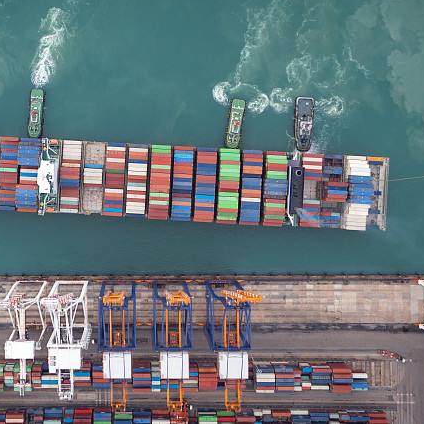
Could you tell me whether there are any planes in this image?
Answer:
No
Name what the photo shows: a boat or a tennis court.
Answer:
boat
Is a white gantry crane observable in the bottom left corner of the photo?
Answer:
Yes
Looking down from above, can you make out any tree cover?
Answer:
No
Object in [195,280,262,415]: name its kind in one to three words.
container crane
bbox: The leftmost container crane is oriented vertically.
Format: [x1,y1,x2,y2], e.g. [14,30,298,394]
[0,280,53,400]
